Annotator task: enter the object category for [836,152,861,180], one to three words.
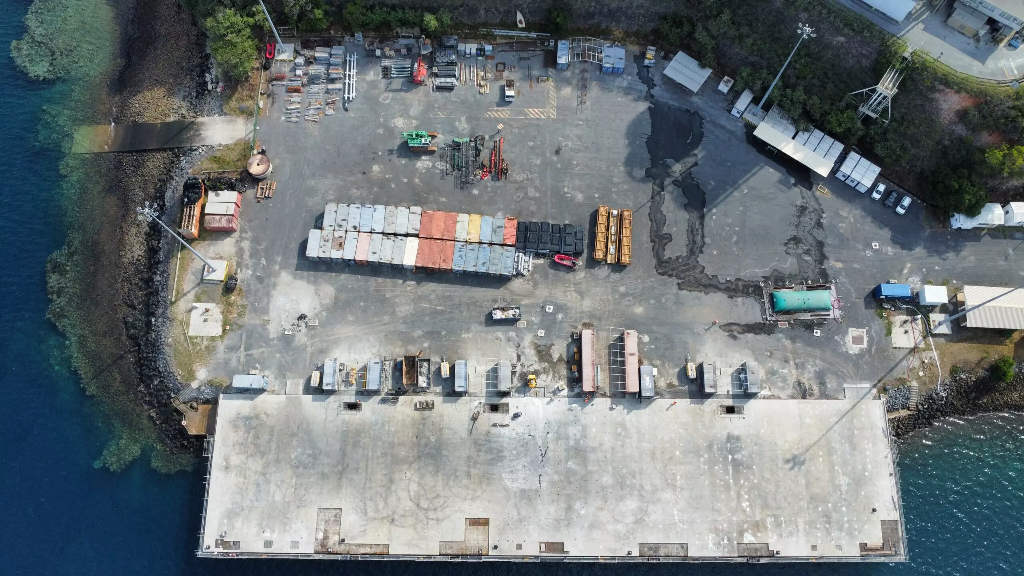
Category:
building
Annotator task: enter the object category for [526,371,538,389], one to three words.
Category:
vehicle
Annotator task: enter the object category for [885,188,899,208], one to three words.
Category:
car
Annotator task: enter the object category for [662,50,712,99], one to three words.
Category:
shed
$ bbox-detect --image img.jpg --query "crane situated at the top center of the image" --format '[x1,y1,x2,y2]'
[400,129,439,152]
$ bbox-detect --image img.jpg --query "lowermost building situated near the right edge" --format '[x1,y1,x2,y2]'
[951,287,1024,333]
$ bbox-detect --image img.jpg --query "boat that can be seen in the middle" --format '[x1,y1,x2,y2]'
[553,254,579,267]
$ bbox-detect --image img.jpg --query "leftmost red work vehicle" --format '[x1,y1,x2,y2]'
[405,31,433,86]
